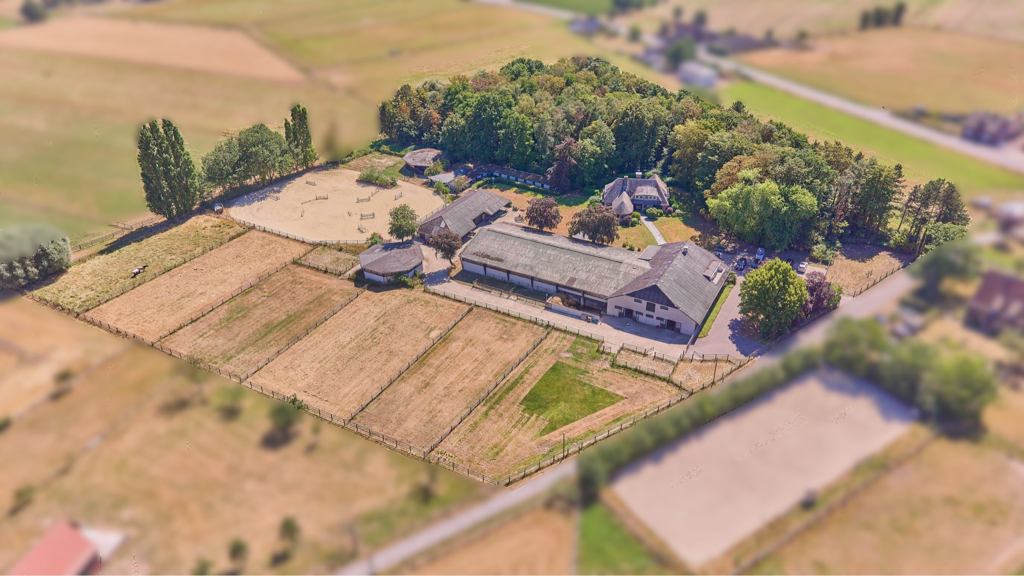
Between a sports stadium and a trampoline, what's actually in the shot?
sports stadium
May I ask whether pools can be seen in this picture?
No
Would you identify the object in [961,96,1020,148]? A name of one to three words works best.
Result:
house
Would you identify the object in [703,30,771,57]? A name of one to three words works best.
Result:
shed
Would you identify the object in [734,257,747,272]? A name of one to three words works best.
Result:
vehicle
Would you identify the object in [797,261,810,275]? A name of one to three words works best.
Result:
vehicle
